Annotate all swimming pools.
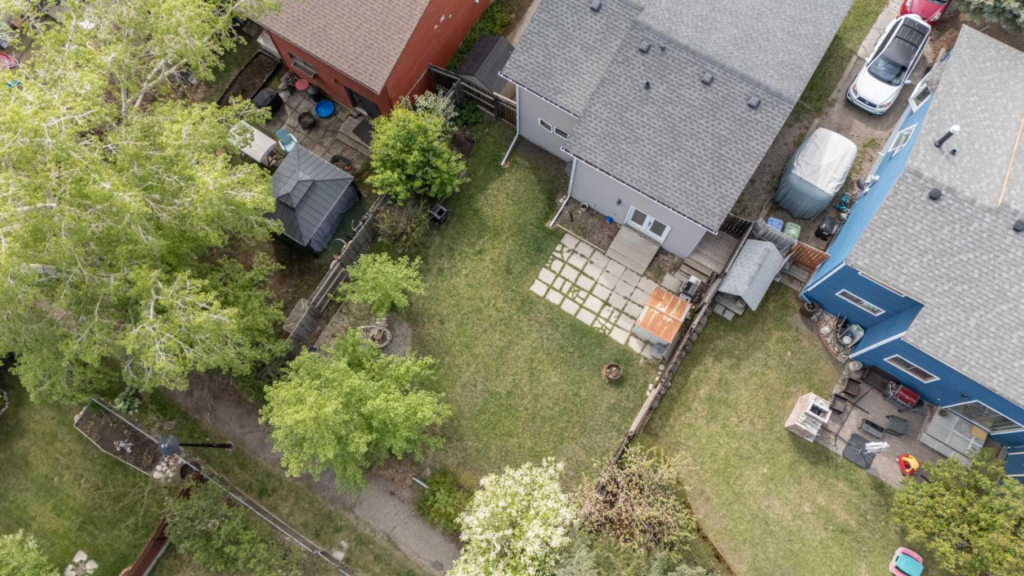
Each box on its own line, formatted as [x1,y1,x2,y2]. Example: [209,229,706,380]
[315,100,334,119]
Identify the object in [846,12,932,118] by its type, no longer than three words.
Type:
car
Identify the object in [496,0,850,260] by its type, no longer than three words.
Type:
house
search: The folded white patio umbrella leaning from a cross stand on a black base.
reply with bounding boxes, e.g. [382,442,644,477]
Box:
[844,434,893,466]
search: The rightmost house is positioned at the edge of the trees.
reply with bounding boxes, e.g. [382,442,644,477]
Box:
[801,24,1024,451]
